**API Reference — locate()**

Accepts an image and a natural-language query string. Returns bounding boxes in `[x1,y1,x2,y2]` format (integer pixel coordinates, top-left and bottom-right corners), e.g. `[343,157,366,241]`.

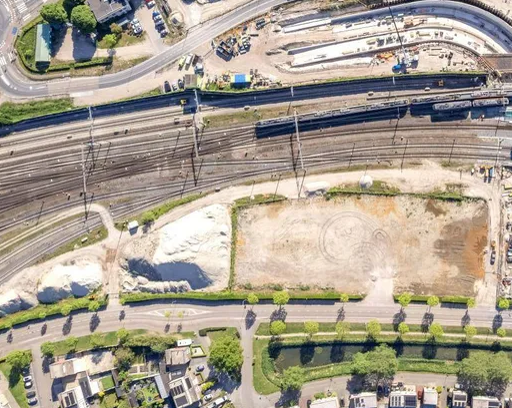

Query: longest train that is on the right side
[256,99,408,124]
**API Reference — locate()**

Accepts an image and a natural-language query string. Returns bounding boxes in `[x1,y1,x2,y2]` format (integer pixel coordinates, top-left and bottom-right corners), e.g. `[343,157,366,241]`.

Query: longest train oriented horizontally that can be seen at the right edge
[412,88,510,104]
